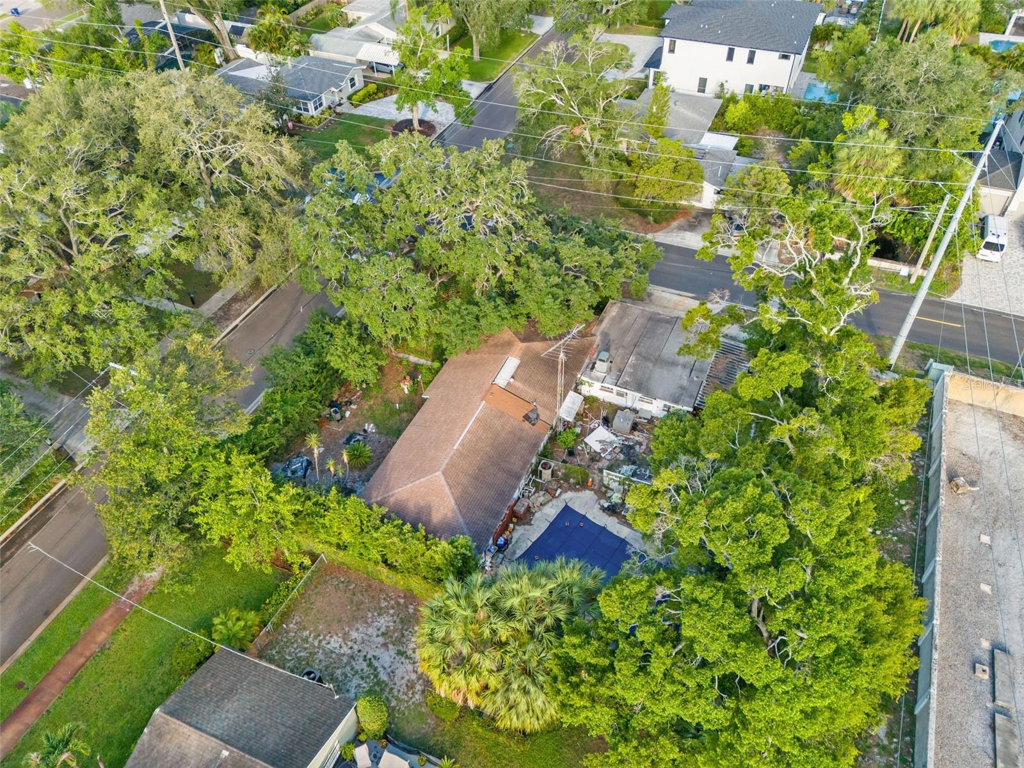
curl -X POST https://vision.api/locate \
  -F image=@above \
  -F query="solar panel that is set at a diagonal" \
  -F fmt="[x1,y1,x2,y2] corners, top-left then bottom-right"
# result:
[493,356,520,386]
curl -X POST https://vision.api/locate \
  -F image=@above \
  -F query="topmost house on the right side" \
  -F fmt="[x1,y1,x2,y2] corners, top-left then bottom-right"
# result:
[641,4,816,100]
